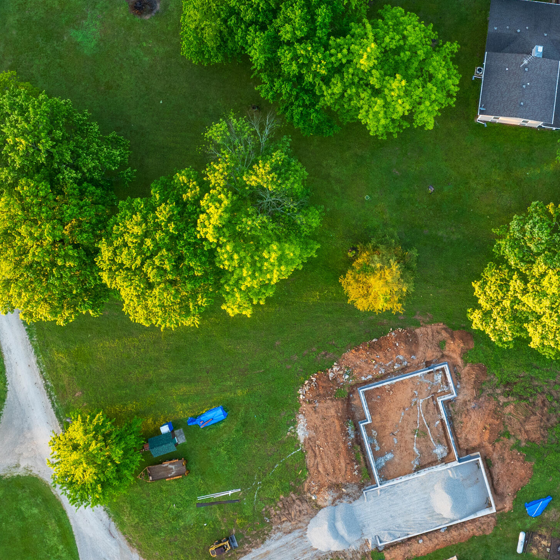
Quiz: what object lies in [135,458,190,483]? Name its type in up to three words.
trailer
